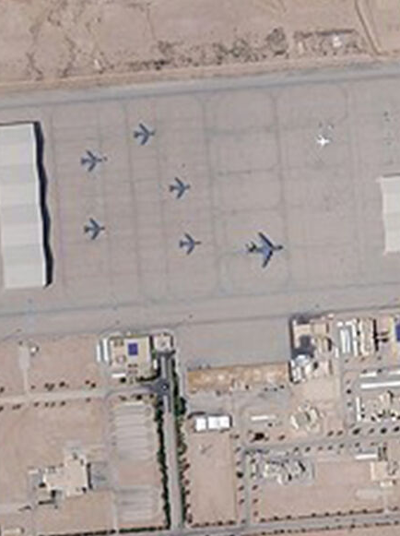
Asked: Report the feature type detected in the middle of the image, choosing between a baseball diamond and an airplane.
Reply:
airplane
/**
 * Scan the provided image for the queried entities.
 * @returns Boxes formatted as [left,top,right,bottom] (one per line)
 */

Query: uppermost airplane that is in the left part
[133,124,154,145]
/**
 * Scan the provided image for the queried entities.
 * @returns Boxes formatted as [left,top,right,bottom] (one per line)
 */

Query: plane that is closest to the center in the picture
[180,233,201,255]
